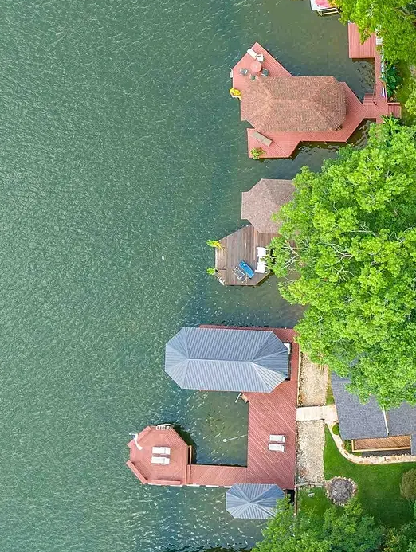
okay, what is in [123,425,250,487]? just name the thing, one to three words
pier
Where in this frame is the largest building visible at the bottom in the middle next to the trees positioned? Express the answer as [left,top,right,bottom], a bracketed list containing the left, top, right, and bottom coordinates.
[165,324,300,489]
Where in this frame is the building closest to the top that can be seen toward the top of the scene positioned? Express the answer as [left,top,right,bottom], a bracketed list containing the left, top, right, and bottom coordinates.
[232,42,369,160]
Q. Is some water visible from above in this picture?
Yes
